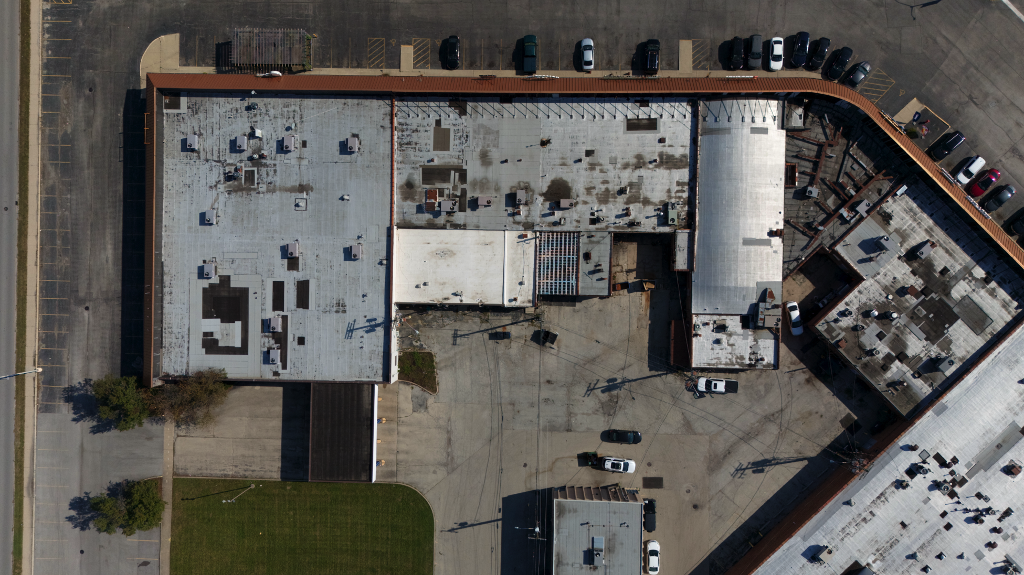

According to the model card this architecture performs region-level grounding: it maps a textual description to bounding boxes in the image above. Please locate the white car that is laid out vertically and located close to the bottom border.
[644,538,661,574]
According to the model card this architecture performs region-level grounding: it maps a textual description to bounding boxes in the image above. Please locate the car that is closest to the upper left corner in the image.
[444,35,460,71]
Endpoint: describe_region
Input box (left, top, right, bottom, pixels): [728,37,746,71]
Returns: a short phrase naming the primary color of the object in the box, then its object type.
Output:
black car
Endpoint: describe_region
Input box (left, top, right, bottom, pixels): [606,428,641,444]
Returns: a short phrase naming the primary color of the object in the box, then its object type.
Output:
black car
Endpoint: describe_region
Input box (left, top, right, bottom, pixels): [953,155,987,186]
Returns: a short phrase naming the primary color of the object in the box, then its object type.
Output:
white car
